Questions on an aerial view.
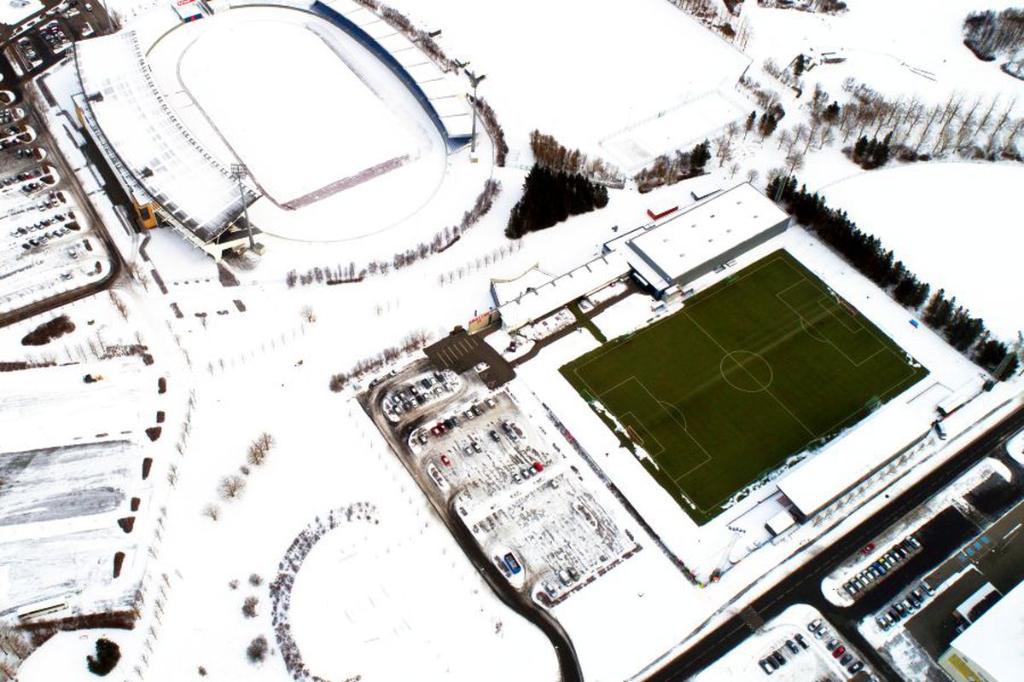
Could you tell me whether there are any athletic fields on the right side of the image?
Yes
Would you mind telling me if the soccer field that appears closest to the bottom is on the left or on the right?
right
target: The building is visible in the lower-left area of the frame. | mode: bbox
[18,599,68,620]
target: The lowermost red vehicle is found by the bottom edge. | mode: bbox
[832,646,846,659]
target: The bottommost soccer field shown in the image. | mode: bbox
[559,247,929,525]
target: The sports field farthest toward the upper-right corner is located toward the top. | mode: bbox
[599,91,751,175]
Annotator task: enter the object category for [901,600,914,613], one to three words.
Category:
vehicle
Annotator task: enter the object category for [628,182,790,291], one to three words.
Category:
building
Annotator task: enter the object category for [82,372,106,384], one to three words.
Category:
vehicle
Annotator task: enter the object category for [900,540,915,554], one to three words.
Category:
car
